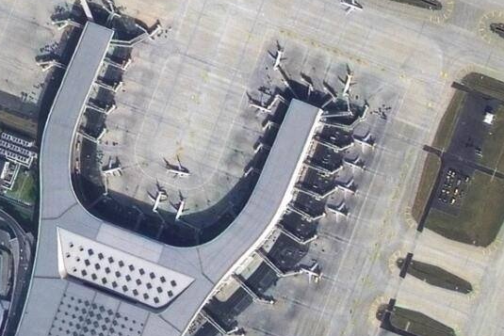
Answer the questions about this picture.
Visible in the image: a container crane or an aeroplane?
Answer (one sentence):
The image shows an aeroplane.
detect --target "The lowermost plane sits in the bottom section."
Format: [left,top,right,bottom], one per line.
[302,263,324,284]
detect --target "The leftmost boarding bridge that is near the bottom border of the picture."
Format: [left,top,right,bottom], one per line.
[201,312,245,336]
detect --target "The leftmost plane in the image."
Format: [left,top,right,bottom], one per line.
[103,158,123,179]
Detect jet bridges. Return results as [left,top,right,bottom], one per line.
[87,105,117,115]
[201,312,245,336]
[297,184,337,199]
[113,23,164,47]
[322,106,368,129]
[100,0,122,24]
[256,251,302,275]
[95,176,109,214]
[254,144,271,153]
[304,163,344,177]
[51,21,82,31]
[233,276,275,303]
[244,167,259,176]
[37,62,65,72]
[106,59,132,71]
[278,226,319,244]
[288,205,327,221]
[301,77,312,103]
[320,88,339,109]
[269,94,289,111]
[321,95,352,118]
[276,71,298,97]
[97,81,123,92]
[315,140,355,153]
[79,131,108,143]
